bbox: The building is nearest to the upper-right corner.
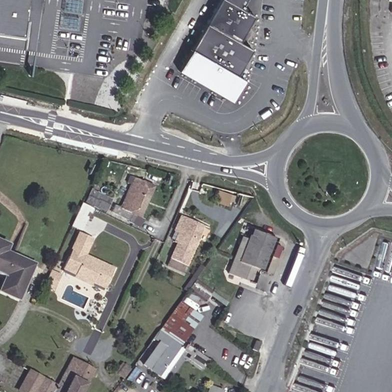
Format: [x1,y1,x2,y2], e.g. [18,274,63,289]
[181,0,257,103]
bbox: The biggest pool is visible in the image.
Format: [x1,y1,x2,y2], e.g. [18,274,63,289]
[62,285,88,307]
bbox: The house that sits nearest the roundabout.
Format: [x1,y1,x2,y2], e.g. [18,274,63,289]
[229,228,279,280]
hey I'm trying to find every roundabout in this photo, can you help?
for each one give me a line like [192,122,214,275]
[267,114,390,236]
